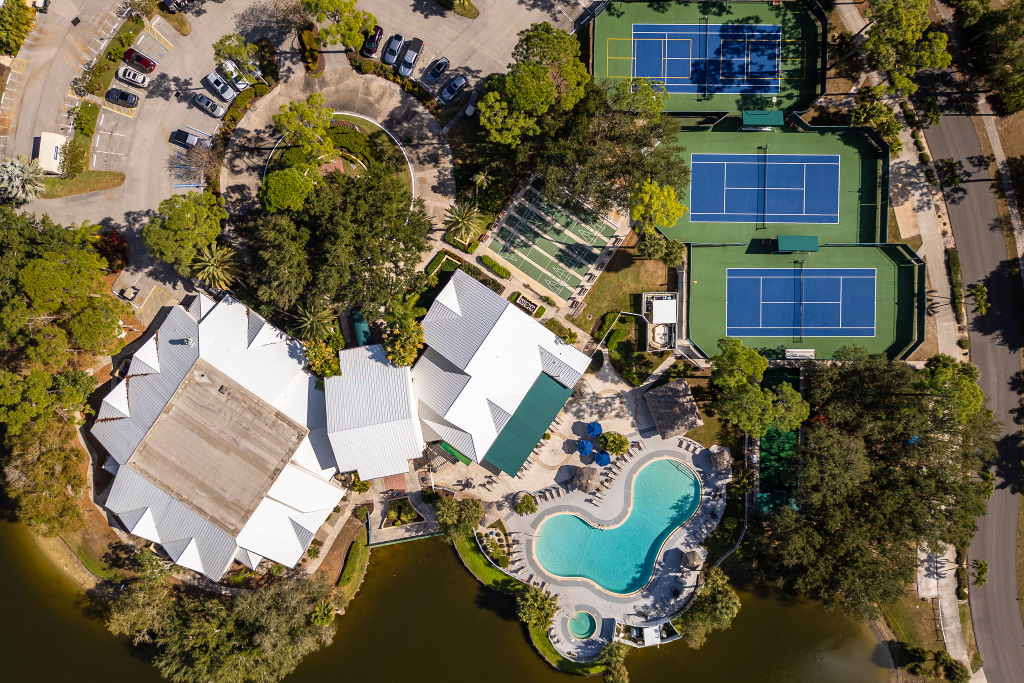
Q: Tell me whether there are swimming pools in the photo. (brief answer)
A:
Yes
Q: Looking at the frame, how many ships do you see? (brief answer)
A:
0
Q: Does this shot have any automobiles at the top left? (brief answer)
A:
Yes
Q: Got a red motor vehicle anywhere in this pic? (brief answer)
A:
Yes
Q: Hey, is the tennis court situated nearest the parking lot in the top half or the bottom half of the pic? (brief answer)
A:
top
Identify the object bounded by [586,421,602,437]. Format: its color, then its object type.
blue umbrella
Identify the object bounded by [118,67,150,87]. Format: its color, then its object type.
white car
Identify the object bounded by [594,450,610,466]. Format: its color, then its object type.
blue umbrella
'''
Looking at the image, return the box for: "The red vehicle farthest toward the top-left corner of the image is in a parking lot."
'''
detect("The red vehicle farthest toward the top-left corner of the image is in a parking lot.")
[126,48,156,74]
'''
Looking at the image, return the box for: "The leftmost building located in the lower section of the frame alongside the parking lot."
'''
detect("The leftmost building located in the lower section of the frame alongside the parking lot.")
[90,293,346,581]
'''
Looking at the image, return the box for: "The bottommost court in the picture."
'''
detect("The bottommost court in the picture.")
[756,369,800,513]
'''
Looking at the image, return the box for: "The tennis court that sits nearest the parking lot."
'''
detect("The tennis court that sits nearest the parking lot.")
[597,2,820,132]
